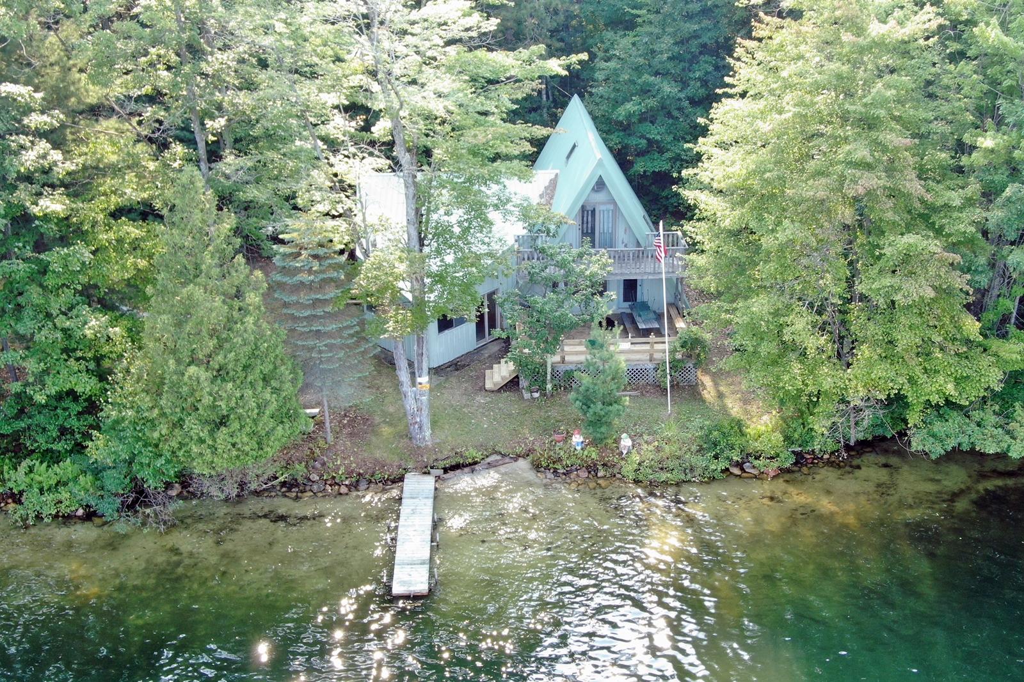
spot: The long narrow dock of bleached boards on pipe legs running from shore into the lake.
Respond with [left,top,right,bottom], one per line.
[389,475,440,600]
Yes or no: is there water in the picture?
Yes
